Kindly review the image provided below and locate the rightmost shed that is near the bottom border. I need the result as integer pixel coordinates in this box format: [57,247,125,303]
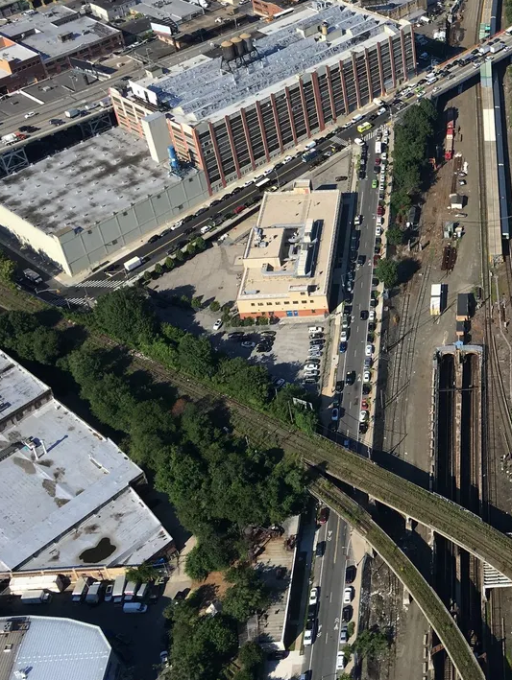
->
[257,514,304,659]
